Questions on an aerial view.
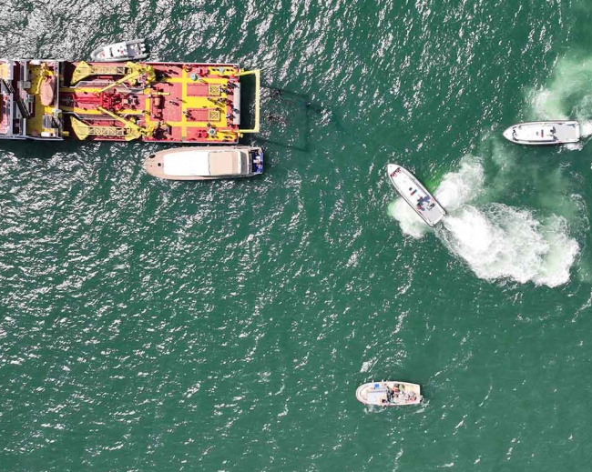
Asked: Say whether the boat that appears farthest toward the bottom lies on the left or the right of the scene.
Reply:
right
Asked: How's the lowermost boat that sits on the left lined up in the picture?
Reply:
from left to right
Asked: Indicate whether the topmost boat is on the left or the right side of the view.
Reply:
left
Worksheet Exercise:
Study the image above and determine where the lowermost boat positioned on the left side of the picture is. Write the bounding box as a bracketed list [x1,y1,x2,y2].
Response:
[142,145,264,180]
